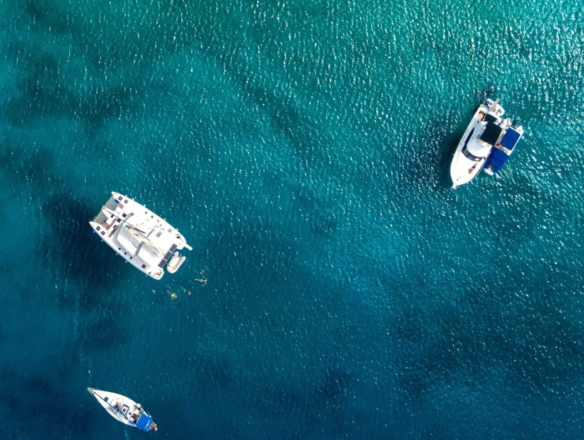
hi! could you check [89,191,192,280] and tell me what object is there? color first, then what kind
white boat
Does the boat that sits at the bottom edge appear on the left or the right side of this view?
left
